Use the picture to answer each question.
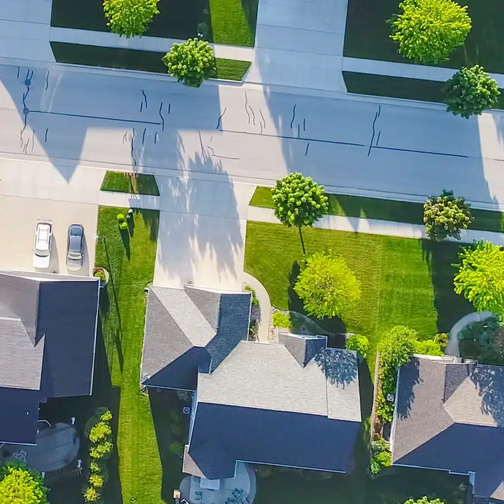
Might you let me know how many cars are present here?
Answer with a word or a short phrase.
two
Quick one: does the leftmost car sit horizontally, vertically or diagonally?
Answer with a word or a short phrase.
vertically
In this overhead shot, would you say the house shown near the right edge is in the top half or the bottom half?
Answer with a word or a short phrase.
bottom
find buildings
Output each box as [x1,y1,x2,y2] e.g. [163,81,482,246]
[383,353,504,496]
[138,283,362,480]
[0,270,100,449]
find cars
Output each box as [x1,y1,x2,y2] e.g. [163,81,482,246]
[65,224,86,271]
[32,221,55,270]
